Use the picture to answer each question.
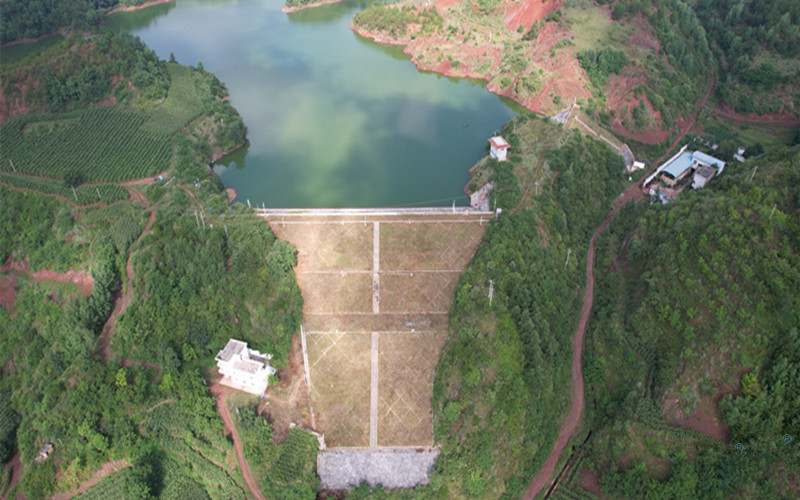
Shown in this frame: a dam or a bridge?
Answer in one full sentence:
There is a dam in the scene.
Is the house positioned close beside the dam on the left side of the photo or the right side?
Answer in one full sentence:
The house positioned close beside the dam appears in the left half of the scene.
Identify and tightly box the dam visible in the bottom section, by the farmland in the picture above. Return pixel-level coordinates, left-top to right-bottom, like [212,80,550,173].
[252,207,498,491]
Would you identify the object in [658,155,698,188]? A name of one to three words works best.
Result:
building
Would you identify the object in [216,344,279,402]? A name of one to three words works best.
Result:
house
